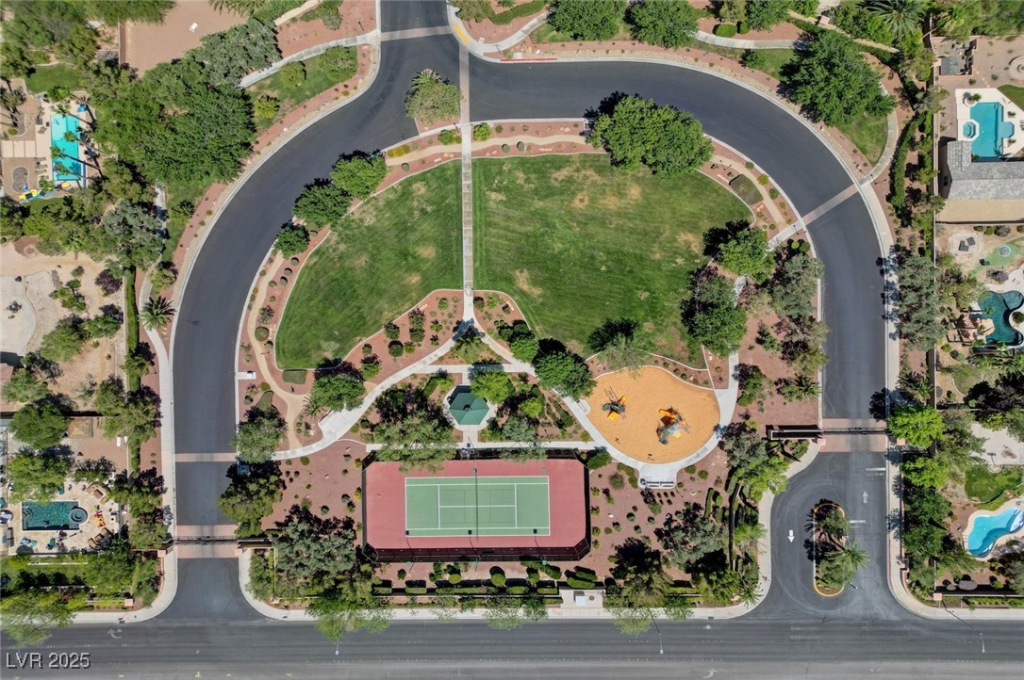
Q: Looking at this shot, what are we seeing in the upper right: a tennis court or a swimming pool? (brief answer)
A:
swimming pool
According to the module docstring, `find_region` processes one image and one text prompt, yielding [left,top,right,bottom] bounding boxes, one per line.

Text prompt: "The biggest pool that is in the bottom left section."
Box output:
[8,477,121,553]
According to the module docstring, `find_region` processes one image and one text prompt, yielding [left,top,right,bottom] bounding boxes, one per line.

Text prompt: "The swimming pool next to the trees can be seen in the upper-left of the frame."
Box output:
[35,98,99,193]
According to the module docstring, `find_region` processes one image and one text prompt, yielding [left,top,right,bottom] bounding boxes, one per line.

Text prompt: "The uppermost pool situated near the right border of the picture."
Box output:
[955,88,1024,159]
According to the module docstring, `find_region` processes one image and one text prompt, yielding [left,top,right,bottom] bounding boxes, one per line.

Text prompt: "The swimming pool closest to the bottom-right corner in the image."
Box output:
[962,498,1024,563]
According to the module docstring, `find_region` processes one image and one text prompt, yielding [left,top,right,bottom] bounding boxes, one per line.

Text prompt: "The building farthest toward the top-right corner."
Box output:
[939,139,1024,200]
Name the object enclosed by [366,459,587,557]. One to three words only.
tennis court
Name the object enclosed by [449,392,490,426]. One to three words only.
gazebo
